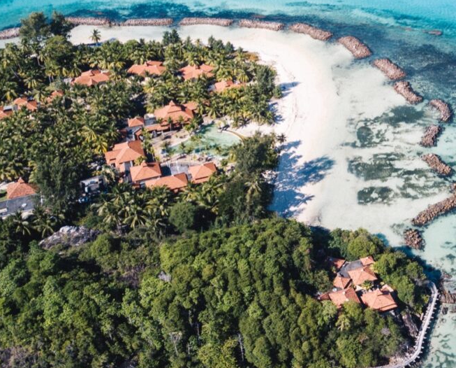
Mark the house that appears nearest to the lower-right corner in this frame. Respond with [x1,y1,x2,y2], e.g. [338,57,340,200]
[364,288,397,319]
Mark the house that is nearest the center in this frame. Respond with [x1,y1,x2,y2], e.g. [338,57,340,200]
[188,159,217,187]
